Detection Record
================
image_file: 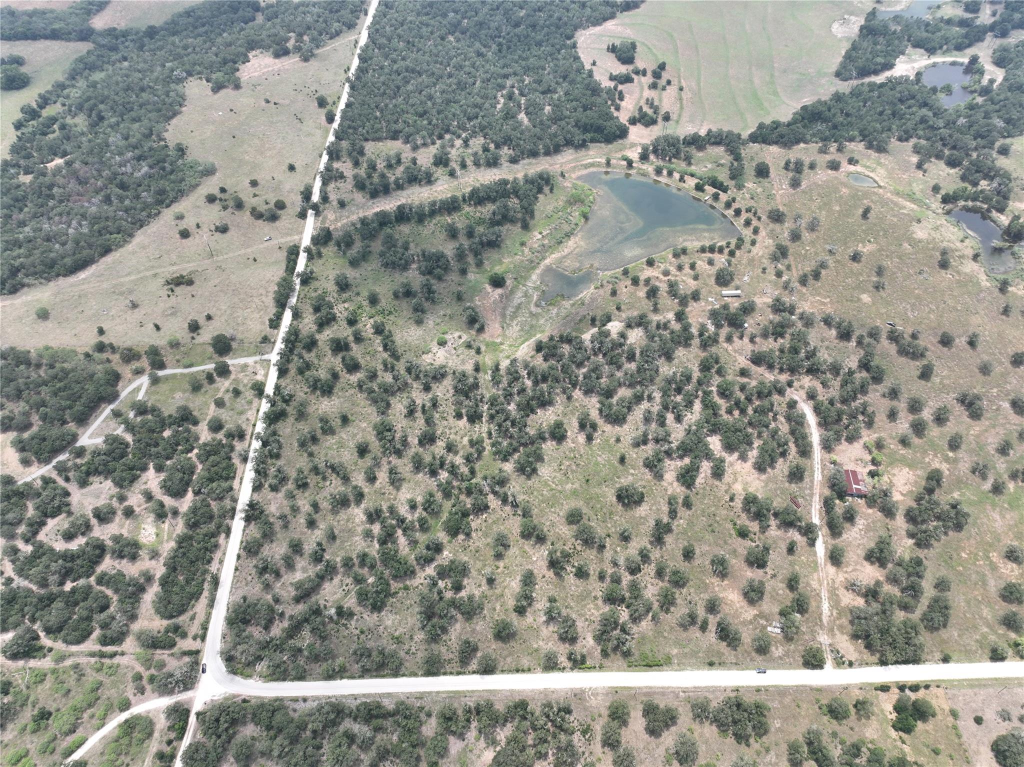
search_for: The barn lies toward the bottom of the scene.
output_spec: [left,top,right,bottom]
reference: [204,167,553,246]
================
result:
[843,465,870,493]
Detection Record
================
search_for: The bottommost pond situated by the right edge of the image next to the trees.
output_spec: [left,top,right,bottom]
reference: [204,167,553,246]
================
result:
[947,209,1024,273]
